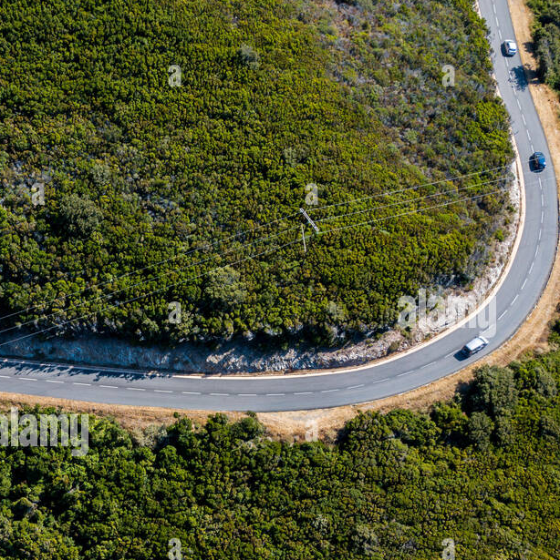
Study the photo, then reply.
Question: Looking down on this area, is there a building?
No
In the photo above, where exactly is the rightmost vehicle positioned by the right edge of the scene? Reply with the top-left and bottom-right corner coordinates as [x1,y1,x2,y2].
[532,153,546,170]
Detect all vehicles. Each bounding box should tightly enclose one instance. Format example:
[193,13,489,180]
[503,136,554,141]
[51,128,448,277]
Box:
[503,39,517,57]
[462,337,487,355]
[532,153,546,170]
